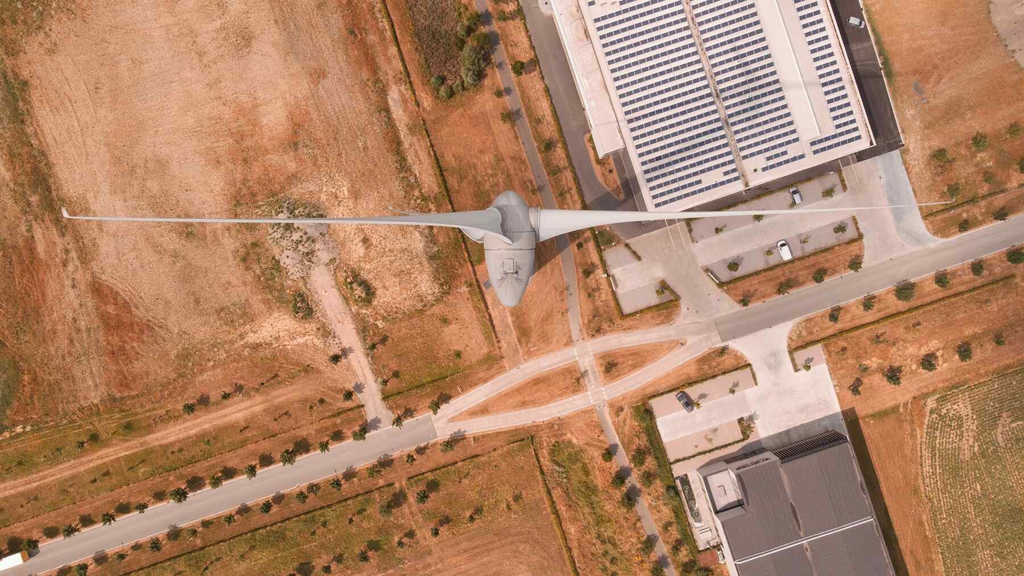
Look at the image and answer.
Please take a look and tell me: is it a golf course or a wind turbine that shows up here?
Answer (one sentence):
This aerial view contains a wind turbine.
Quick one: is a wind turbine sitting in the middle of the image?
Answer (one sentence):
Yes, looking in the middle of the image, one can make out a wind turbine.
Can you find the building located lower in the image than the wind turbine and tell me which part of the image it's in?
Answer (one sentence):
You can find the building located lower in the image than the wind turbine in the bottom right area of the picture.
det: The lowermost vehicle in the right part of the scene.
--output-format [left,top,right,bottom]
[676,390,694,413]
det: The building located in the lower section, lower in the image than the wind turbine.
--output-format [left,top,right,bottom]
[696,431,893,576]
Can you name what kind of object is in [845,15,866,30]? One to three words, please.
car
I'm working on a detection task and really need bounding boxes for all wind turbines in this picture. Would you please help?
[63,191,948,307]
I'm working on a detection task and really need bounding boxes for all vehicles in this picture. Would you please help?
[676,390,694,413]
[777,239,793,262]
[845,15,866,30]
[788,185,803,207]
[0,548,40,572]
